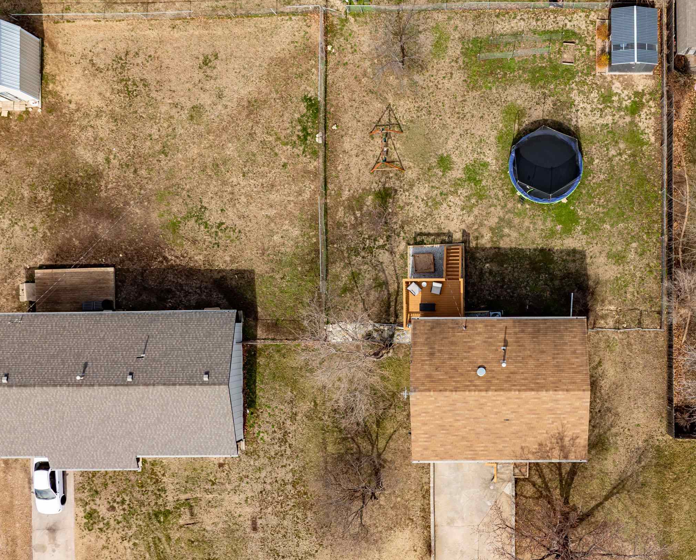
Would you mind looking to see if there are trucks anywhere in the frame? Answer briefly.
No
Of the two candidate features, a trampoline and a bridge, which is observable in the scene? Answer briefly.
trampoline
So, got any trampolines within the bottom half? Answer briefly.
No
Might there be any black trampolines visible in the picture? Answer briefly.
Yes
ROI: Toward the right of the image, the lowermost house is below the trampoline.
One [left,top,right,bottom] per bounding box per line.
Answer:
[400,316,590,464]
